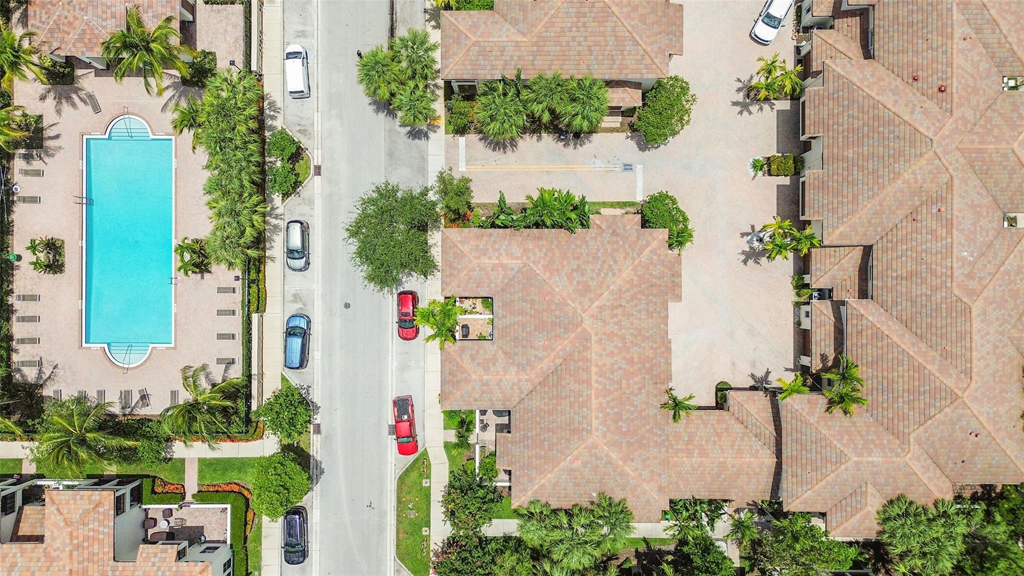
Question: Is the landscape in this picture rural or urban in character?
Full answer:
This place is urban.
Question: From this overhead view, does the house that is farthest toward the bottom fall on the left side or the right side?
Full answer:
The house that is farthest toward the bottom is on the left side of the image.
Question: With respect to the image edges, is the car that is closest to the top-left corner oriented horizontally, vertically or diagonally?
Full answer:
What the image shows is the car that is closest to the top-left corner lying vertically.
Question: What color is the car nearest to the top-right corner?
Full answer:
In this view, the car nearest to the top-right corner is white.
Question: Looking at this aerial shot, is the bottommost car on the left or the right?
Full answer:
You can find the bottommost car on the left side of the picture.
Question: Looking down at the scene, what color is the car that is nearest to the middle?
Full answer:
From above, the car that is nearest to the middle appears red.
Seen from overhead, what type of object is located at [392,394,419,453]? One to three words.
truck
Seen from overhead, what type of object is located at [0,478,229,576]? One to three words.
house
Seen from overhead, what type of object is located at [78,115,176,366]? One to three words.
swimming pool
